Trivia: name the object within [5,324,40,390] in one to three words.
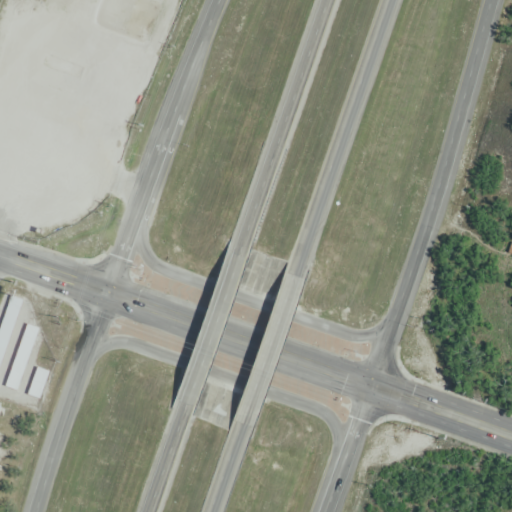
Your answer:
shed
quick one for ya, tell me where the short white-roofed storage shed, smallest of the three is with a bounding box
[28,367,50,398]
